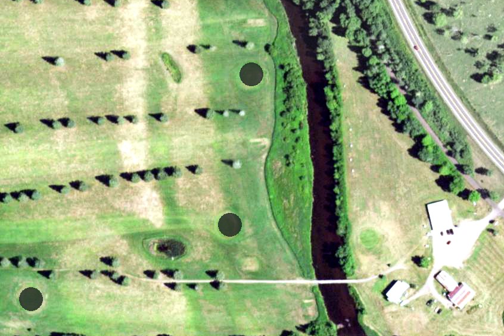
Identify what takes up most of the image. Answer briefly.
grass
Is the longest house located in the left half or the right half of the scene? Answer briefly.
right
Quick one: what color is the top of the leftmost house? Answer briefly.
white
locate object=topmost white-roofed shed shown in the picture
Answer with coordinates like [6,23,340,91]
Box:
[427,201,454,230]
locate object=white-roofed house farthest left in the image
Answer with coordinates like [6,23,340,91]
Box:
[385,279,412,302]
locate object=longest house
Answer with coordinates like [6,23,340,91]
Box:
[435,271,480,306]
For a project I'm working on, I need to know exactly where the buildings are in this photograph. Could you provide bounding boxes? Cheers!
[435,271,480,306]
[427,201,454,230]
[385,279,412,302]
